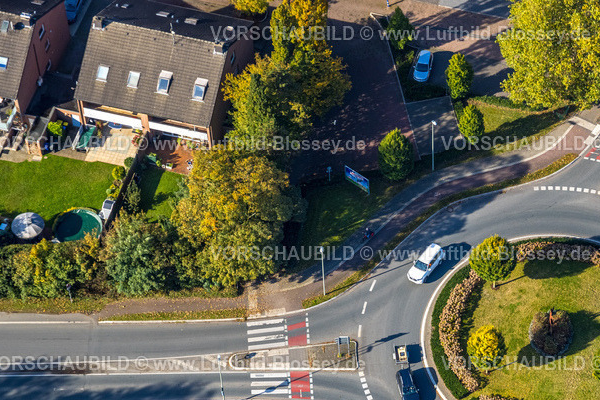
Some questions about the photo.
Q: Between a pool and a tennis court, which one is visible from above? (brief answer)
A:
pool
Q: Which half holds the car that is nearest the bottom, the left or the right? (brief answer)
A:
right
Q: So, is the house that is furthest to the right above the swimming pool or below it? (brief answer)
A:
above it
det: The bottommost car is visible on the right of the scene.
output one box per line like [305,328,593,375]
[396,365,420,400]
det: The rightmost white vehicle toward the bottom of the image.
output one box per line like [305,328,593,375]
[409,243,443,283]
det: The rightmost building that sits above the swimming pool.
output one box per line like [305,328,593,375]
[73,0,251,144]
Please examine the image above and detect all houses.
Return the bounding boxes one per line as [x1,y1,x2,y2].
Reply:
[0,0,67,123]
[73,0,251,144]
